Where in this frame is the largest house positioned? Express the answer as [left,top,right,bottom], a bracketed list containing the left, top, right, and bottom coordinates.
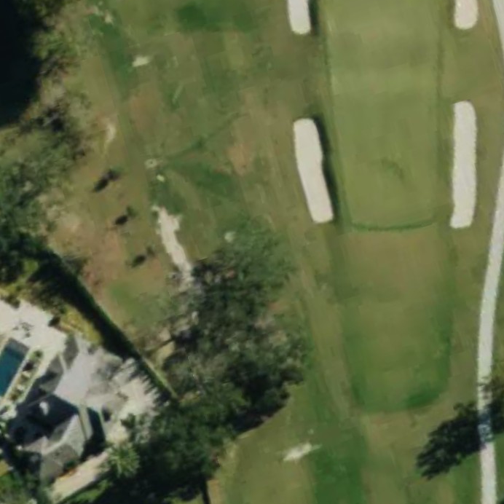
[6,339,118,502]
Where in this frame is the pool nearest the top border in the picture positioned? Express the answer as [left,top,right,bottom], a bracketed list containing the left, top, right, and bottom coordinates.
[0,336,33,400]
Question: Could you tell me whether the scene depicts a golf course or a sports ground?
golf course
